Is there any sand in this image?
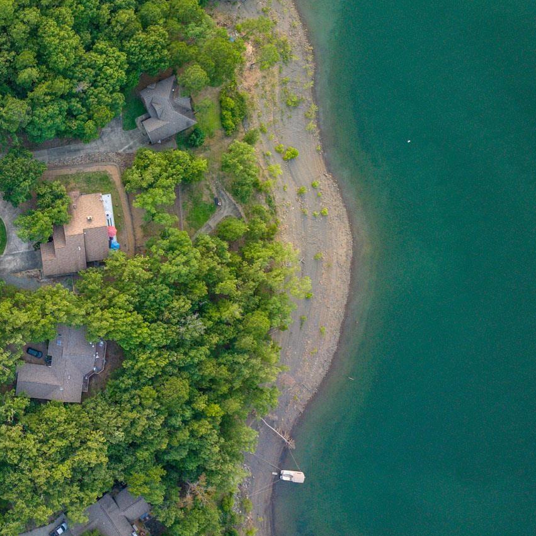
Yes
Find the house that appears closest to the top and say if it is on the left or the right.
left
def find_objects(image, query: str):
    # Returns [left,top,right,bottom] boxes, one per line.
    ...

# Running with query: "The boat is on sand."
[280,471,306,484]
